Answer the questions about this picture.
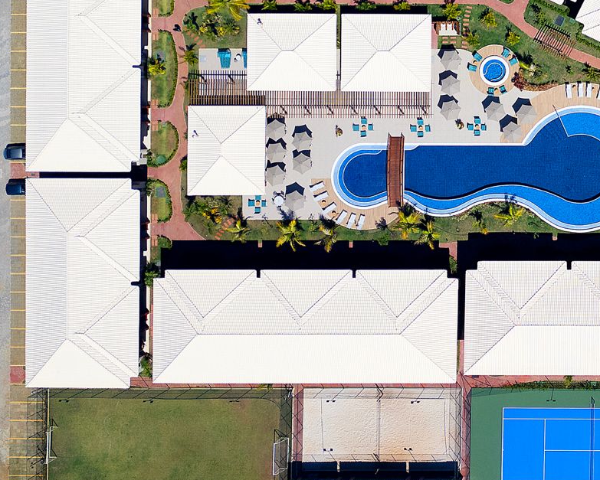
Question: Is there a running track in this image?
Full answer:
No, the photo shows no running track.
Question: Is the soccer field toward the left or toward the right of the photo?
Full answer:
It is on the left.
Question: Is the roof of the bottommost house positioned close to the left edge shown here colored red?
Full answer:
No, from above the roof of the bottommost house positioned close to the left edge looks white.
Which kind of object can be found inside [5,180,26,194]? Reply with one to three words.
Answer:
car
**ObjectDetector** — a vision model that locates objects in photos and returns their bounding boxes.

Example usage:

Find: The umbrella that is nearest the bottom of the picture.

[287,190,307,212]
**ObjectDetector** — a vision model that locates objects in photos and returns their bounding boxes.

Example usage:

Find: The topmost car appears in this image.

[2,142,28,159]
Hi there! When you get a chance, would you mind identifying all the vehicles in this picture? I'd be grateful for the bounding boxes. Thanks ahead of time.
[2,142,28,159]
[5,180,26,194]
